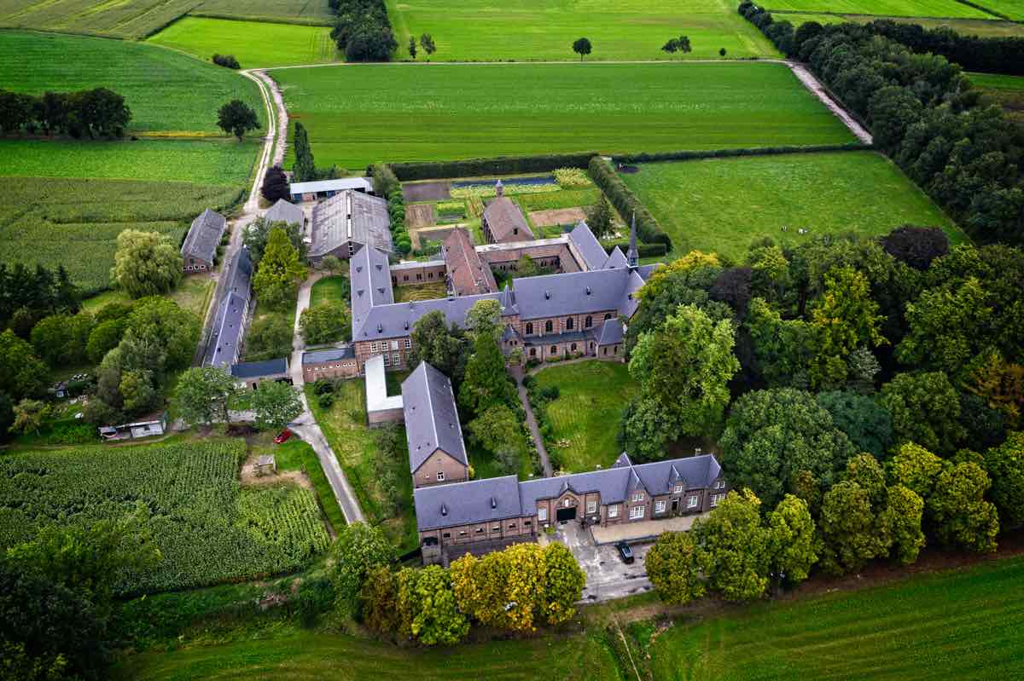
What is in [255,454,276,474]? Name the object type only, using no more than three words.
shed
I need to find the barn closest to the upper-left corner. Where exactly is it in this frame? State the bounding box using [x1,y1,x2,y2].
[180,209,229,275]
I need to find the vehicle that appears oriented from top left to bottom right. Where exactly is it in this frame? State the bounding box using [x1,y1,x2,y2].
[612,537,638,566]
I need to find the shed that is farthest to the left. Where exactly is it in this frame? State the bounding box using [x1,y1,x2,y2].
[48,379,73,397]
